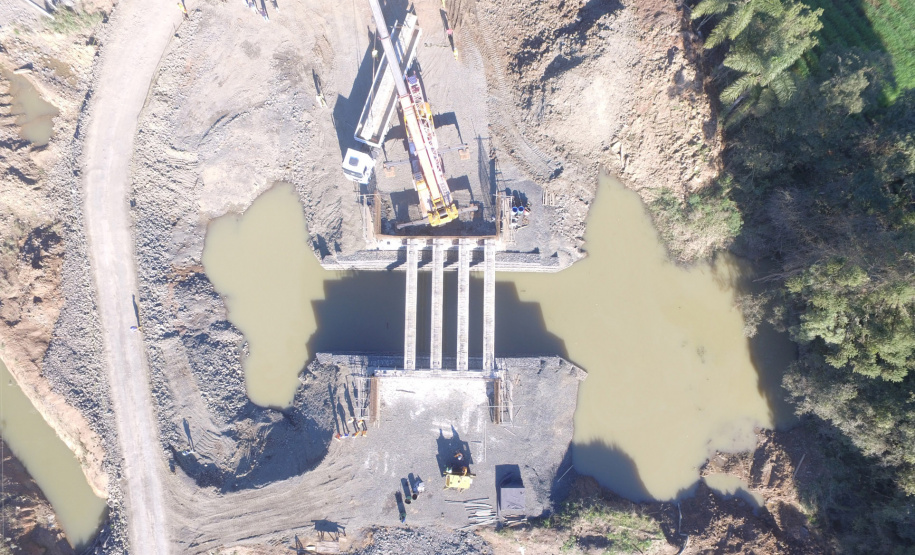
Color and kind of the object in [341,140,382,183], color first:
white truck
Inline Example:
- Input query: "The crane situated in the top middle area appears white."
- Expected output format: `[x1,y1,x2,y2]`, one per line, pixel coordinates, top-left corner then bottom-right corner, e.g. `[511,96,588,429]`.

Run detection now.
[367,0,483,233]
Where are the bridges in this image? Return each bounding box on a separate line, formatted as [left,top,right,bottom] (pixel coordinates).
[366,232,503,373]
